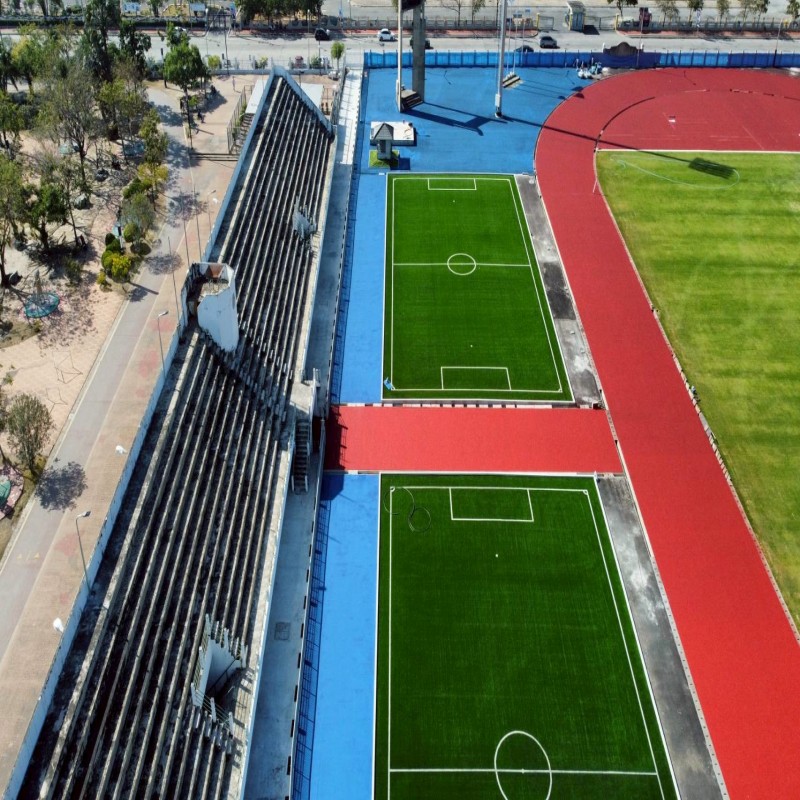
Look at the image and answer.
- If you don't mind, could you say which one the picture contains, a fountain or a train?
fountain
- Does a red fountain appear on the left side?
No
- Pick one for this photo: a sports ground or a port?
sports ground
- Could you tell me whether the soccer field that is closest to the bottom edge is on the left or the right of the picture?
right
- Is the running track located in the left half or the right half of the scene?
right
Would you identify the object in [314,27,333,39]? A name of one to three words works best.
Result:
vehicle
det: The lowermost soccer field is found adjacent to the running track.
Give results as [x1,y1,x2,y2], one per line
[372,473,680,800]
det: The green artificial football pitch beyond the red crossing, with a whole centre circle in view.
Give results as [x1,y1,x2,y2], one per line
[380,173,576,400]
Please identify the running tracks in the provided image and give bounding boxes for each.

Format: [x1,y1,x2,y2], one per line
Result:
[535,66,800,800]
